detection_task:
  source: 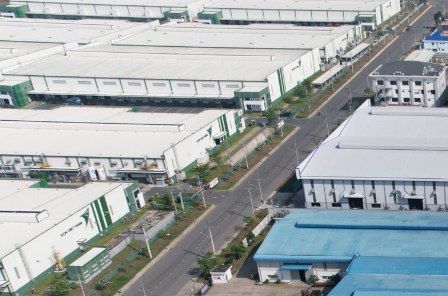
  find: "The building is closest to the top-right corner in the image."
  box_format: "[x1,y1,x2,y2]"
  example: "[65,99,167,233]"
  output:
[423,34,448,52]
